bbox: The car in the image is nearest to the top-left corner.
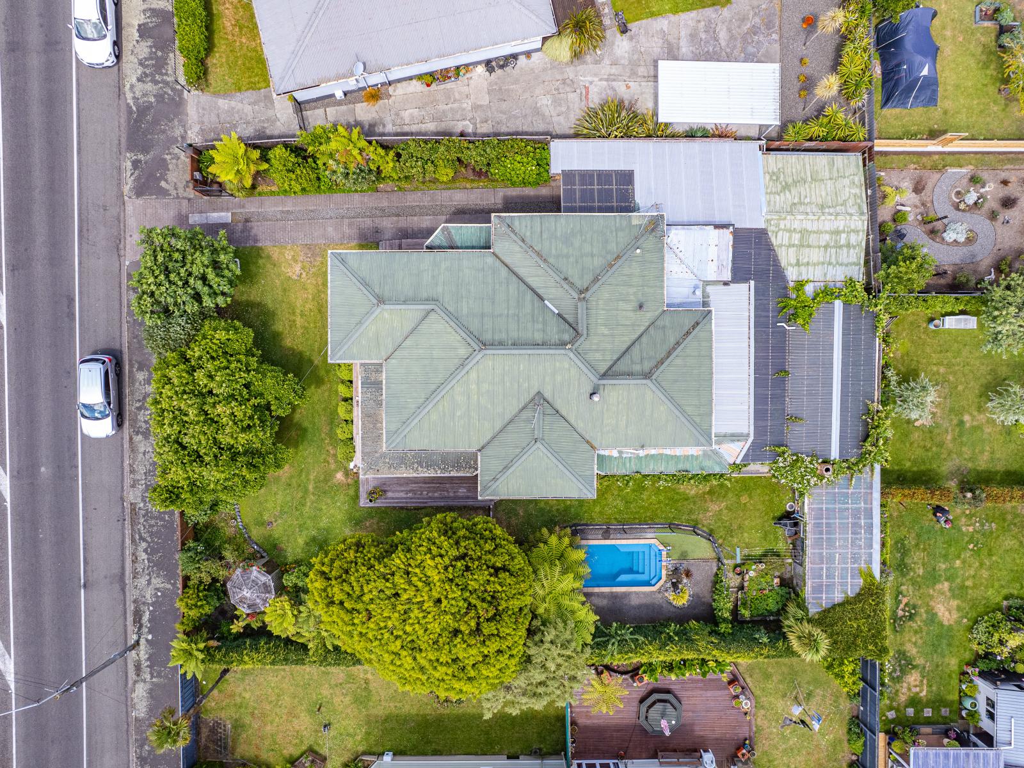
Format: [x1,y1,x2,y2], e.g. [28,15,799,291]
[69,0,122,69]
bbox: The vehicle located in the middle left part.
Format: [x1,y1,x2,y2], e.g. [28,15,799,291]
[73,355,125,438]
